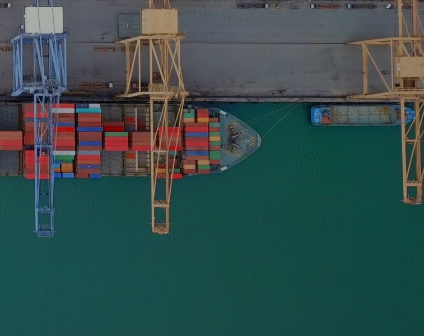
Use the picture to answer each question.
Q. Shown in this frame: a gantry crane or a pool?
gantry crane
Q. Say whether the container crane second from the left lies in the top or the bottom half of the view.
top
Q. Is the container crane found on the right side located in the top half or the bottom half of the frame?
top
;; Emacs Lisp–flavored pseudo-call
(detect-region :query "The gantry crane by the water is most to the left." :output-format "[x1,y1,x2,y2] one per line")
[6,0,67,239]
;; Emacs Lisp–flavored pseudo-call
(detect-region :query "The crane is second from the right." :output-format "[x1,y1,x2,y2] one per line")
[113,0,187,234]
